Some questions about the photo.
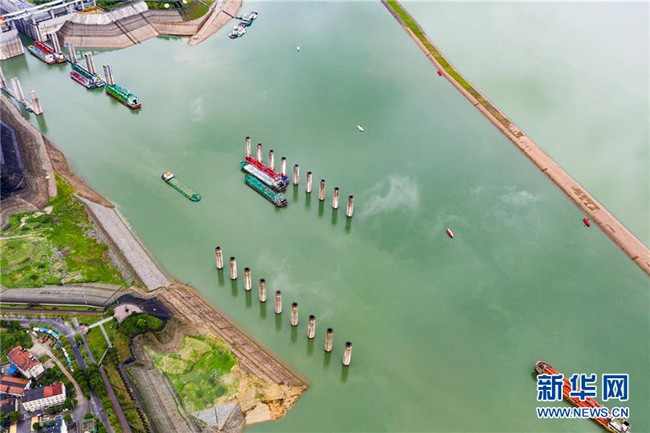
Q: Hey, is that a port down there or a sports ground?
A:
port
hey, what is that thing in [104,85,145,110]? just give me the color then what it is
green ship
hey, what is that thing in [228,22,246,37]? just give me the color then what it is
white boat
